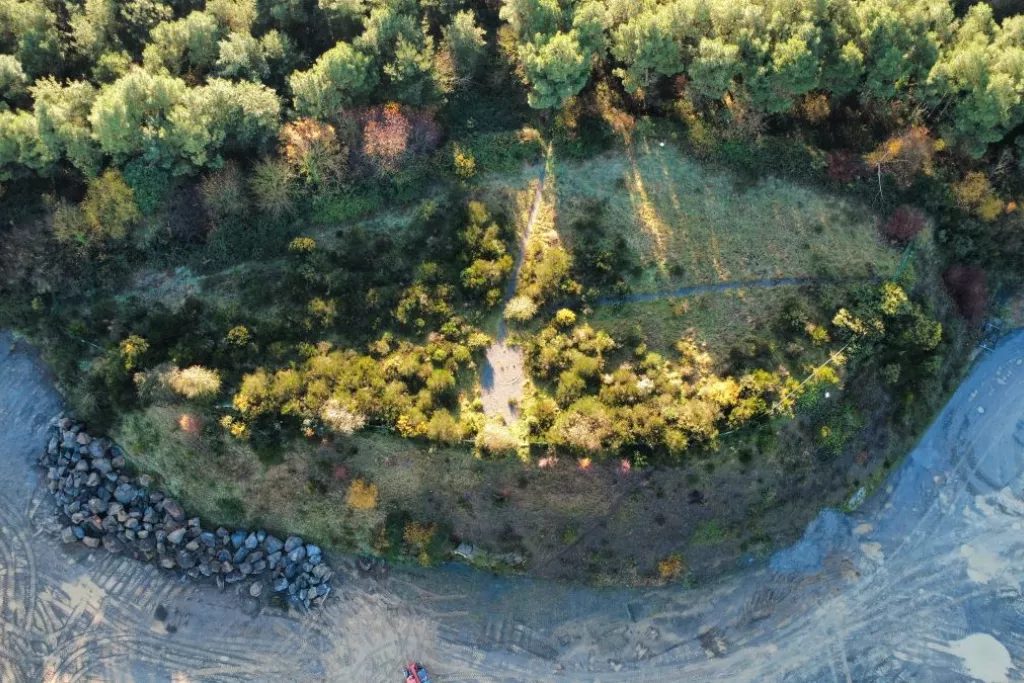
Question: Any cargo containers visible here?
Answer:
No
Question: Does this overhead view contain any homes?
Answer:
No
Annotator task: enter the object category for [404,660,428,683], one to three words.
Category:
work vehicle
